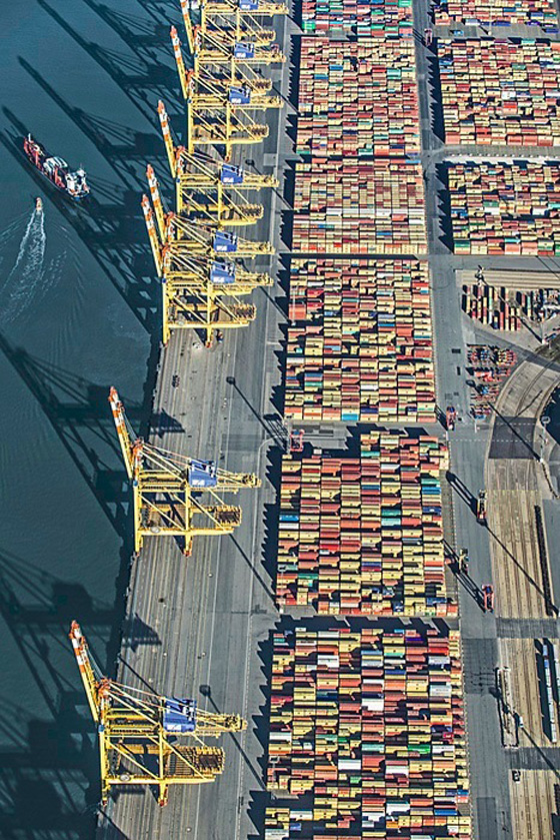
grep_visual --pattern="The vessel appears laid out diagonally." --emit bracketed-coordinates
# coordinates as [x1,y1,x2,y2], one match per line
[26,130,96,204]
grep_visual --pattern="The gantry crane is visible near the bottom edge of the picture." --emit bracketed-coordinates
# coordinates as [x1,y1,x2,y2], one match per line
[68,614,249,809]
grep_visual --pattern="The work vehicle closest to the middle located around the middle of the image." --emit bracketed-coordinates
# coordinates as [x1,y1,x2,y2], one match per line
[289,433,301,458]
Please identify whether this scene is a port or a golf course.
port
